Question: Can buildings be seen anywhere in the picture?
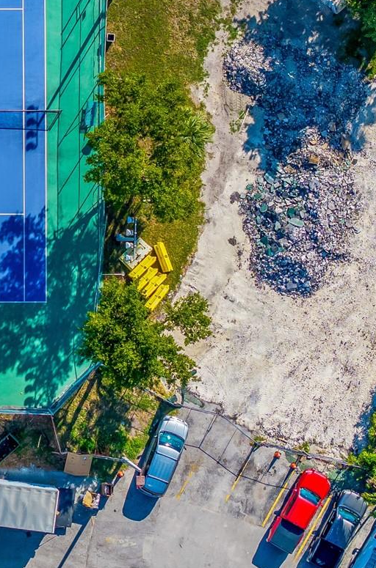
No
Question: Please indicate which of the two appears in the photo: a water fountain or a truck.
truck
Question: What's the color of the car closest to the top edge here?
blue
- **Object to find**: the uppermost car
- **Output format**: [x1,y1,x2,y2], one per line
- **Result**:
[136,412,189,500]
